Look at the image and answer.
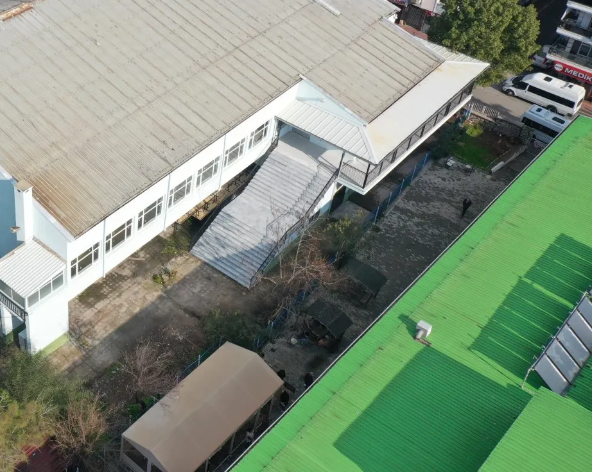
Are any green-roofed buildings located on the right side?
Yes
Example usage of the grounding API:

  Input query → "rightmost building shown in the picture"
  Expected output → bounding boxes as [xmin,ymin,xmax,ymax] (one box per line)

[544,0,592,99]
